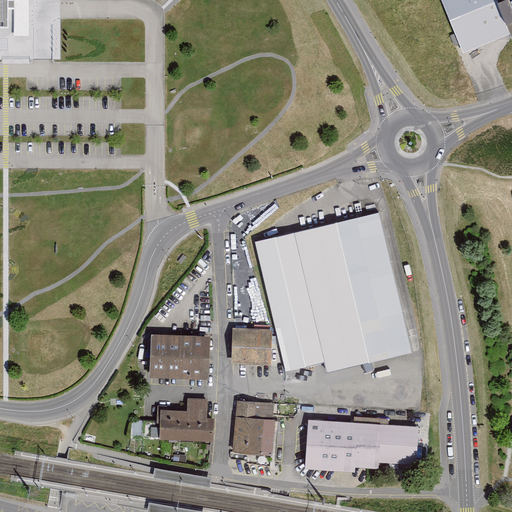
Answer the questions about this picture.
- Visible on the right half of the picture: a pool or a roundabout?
roundabout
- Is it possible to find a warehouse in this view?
Yes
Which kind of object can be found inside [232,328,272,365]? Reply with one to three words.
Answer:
barn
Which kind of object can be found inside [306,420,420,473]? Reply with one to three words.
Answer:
building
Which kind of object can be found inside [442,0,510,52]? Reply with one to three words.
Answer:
shed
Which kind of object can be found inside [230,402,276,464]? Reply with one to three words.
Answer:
house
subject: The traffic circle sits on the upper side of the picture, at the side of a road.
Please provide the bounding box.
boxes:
[376,108,445,176]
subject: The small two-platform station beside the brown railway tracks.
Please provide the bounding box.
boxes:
[11,451,377,512]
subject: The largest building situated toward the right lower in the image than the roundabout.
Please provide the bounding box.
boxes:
[256,213,412,372]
